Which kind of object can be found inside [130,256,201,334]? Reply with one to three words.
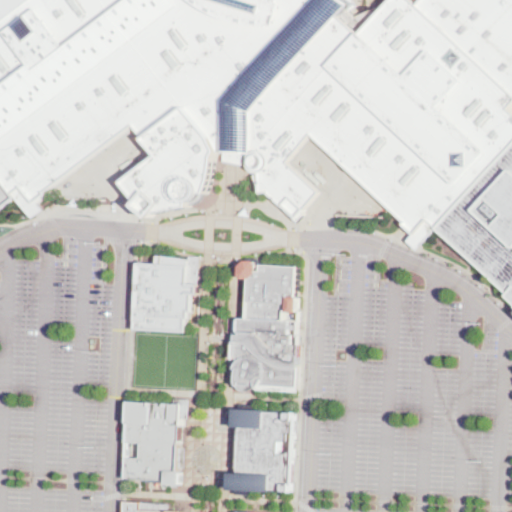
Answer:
building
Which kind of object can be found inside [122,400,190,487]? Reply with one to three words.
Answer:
building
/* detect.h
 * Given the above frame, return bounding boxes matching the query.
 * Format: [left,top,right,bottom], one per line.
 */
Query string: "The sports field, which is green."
[132,332,198,390]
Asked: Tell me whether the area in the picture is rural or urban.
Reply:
urban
